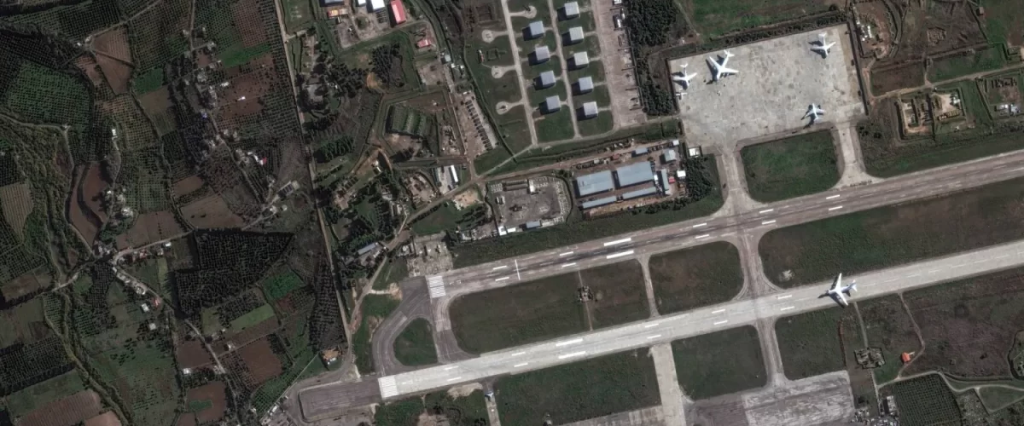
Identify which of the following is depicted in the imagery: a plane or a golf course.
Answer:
plane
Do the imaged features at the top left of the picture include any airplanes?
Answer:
No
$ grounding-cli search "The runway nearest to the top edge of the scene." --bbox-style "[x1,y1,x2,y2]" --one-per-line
[427,149,1024,300]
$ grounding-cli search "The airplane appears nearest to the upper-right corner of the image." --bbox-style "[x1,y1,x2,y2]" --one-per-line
[813,32,836,57]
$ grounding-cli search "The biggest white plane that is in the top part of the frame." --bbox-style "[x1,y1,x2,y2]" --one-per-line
[710,49,739,80]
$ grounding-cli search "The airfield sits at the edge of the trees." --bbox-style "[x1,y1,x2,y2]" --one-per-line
[287,0,1024,426]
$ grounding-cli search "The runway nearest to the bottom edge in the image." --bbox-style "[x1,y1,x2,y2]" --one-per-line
[380,240,1024,399]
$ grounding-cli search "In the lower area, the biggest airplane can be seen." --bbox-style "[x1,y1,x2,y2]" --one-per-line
[828,274,860,304]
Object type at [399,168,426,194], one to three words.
building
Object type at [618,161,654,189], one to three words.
building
